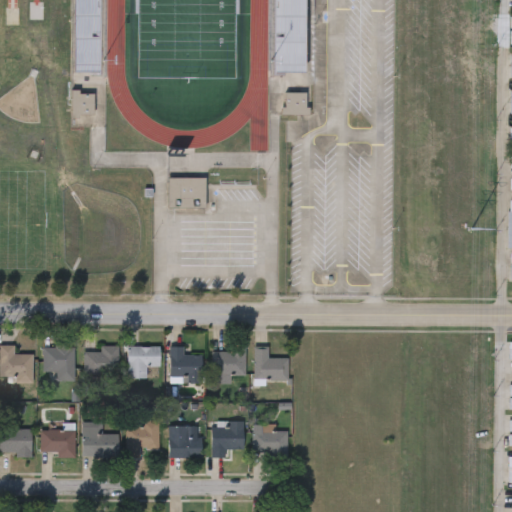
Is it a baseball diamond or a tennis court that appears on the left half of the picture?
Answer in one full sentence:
It is a baseball diamond that can be seen on the left half of the picture.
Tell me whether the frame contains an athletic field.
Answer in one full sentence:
Yes, there is an athletic field in the image.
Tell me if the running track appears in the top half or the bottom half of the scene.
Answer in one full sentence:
The top half of the photo is where the running track is.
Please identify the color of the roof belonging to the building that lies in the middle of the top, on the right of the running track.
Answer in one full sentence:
The roof of the building that lies in the middle of the top, on the right of the running track is white.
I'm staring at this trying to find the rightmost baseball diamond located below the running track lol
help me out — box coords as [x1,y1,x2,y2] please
[65,184,140,273]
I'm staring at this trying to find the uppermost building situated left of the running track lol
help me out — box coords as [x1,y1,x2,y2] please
[72,90,95,112]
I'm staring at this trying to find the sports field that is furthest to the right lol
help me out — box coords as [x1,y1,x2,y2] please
[126,0,250,130]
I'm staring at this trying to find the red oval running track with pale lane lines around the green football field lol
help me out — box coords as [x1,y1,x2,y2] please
[107,0,269,152]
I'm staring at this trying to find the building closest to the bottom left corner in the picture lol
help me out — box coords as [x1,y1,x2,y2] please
[0,429,33,458]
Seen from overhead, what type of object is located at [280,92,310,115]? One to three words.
building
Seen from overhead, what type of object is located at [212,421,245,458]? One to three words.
house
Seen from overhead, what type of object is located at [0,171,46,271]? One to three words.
sports field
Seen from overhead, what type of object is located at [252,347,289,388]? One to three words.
house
